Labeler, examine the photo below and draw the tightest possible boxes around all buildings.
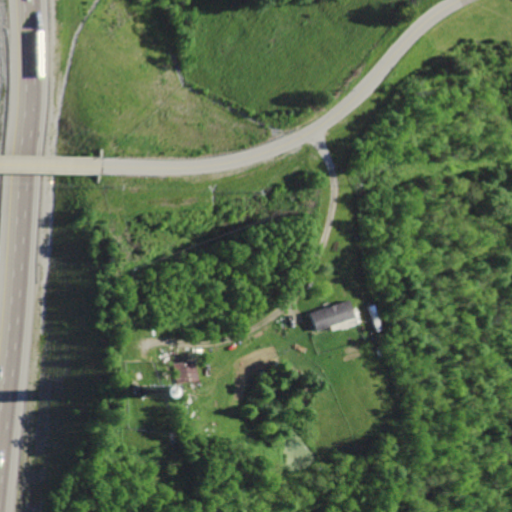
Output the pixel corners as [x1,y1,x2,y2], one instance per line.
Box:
[175,364,200,384]
[310,302,364,332]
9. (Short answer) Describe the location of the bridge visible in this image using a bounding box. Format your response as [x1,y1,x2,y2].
[0,149,102,183]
